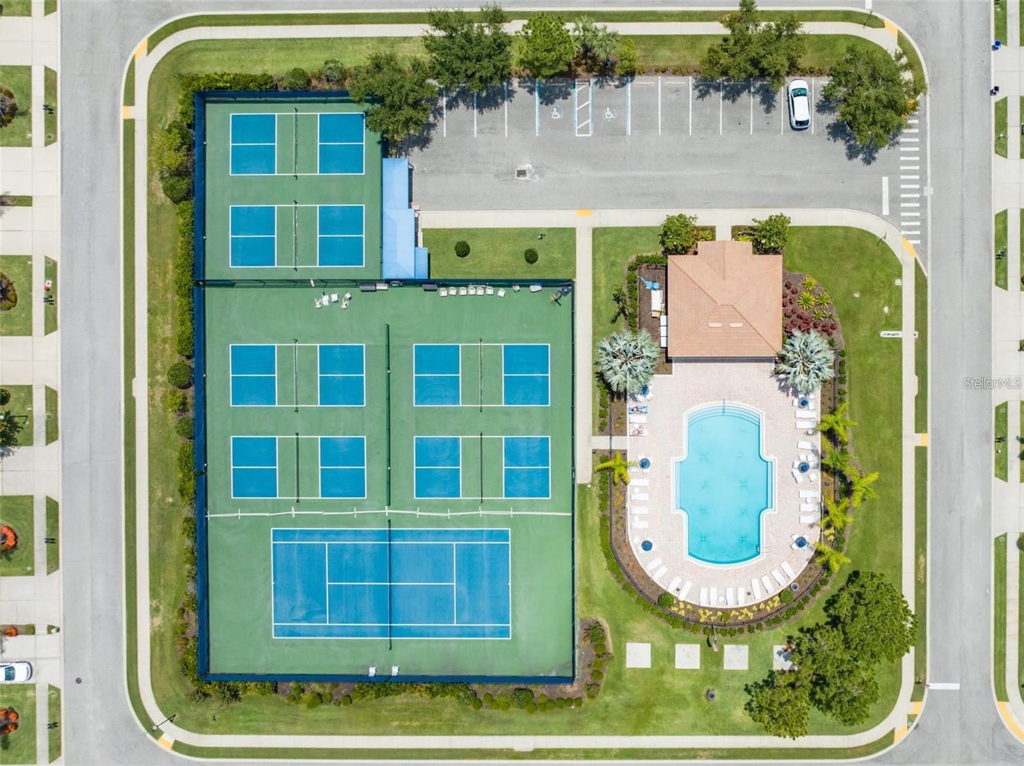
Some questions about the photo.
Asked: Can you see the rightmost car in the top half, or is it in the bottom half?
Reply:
top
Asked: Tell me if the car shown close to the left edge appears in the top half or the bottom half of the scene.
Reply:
bottom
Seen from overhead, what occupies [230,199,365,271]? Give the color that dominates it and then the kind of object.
blue sports court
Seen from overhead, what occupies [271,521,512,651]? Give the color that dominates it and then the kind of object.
blue tennis court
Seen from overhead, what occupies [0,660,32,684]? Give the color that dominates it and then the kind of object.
white car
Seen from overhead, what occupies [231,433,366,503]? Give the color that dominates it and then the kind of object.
blue sports court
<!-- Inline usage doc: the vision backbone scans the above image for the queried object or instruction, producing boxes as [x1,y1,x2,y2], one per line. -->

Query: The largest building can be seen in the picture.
[667,239,783,359]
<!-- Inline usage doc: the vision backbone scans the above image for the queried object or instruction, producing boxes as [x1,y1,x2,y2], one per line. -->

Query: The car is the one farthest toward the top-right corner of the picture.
[786,81,811,130]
